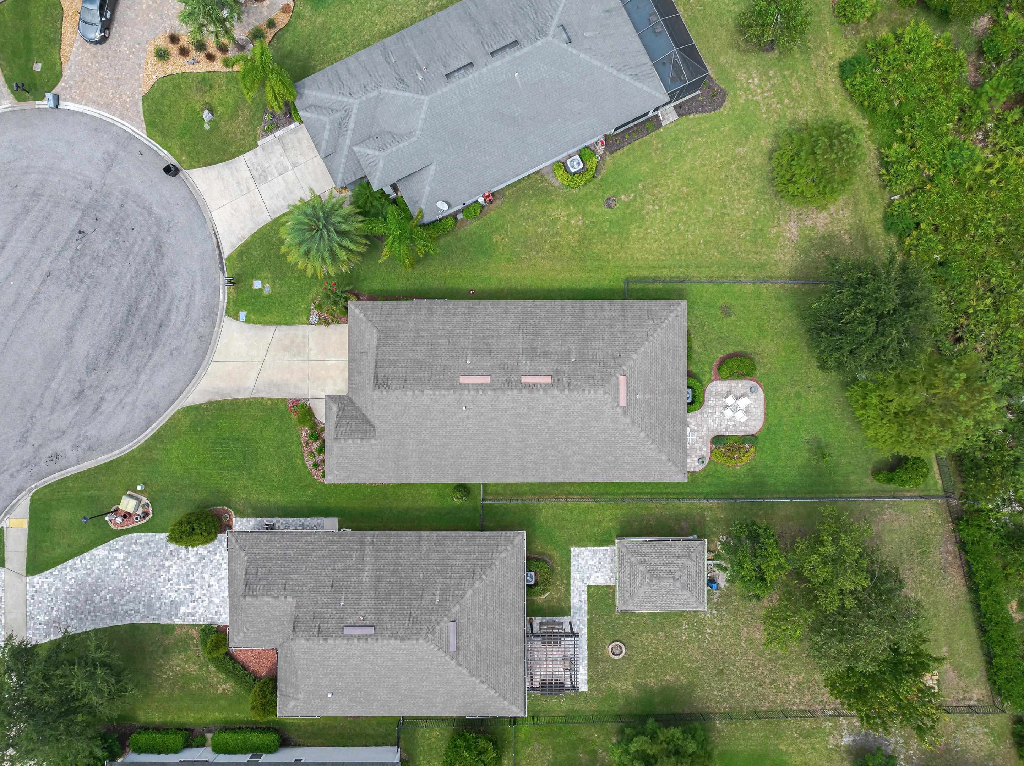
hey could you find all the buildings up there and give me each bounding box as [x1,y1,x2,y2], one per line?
[289,0,671,229]
[324,299,689,484]
[106,748,401,766]
[225,525,527,719]
[615,536,708,613]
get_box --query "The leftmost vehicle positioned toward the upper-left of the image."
[75,0,113,44]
